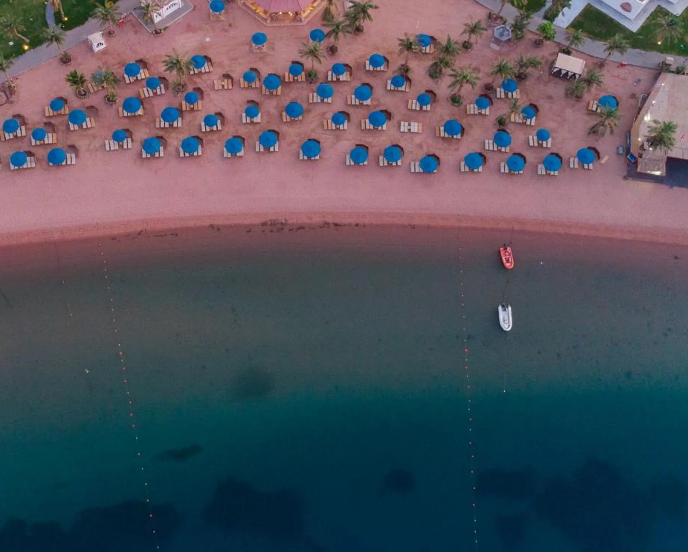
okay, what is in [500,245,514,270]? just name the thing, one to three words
boat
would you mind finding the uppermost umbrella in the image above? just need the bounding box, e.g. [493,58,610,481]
[209,0,225,13]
